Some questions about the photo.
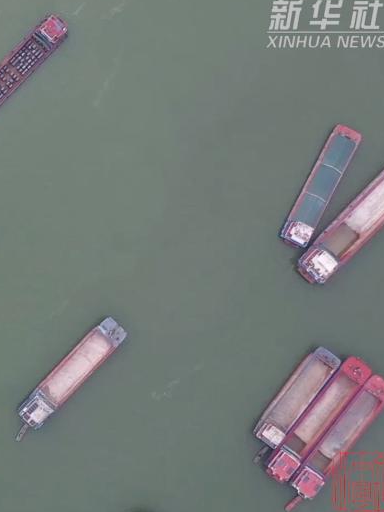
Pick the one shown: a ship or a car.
ship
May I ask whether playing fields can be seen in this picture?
No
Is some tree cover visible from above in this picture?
No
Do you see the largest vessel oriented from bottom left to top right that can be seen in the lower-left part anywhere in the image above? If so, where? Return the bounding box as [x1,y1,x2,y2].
[19,316,127,429]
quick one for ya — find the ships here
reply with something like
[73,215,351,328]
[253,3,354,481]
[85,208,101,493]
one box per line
[0,14,69,106]
[254,344,342,448]
[300,168,384,288]
[280,124,361,248]
[266,354,373,483]
[289,373,384,500]
[19,316,127,429]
